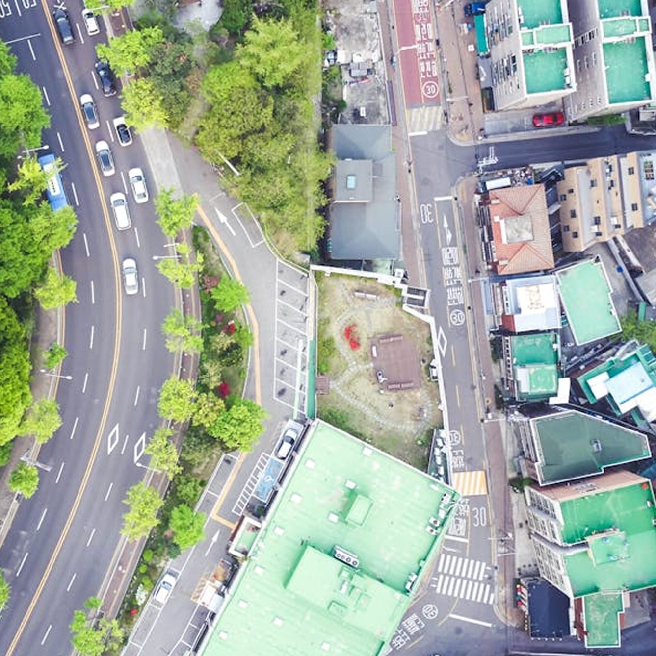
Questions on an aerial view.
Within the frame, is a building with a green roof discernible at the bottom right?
Yes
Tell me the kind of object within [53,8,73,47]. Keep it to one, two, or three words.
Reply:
car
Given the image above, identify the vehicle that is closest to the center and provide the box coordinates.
[274,423,301,461]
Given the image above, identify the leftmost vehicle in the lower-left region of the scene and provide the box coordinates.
[151,568,179,606]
